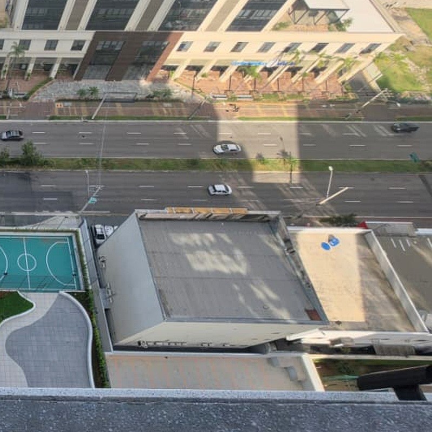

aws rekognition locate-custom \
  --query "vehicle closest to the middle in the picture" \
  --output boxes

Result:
[206,184,232,196]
